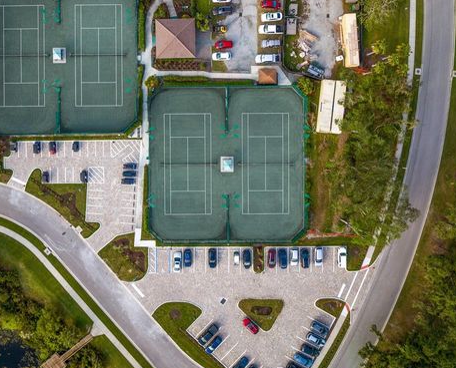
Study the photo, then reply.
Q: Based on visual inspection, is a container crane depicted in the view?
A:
No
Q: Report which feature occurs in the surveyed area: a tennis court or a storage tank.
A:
tennis court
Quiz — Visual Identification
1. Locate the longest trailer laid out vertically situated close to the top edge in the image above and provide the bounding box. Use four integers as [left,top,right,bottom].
[340,12,360,68]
